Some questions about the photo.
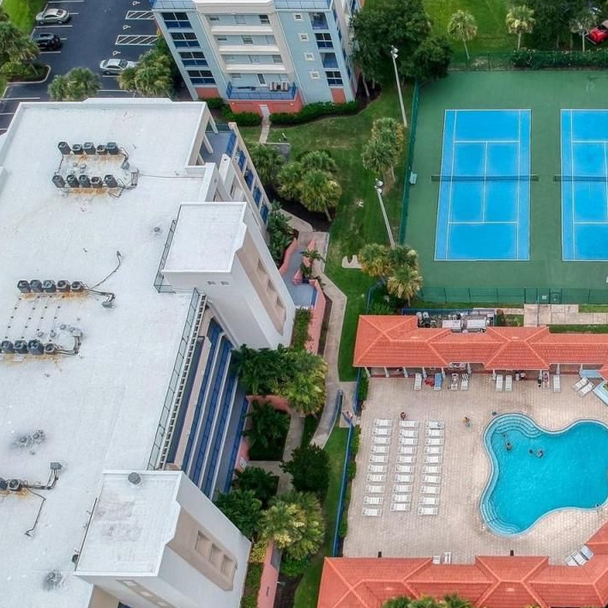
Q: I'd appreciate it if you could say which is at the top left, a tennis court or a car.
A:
car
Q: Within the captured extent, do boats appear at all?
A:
No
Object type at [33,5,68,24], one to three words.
car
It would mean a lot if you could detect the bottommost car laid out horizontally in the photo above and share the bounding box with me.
[98,56,136,73]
